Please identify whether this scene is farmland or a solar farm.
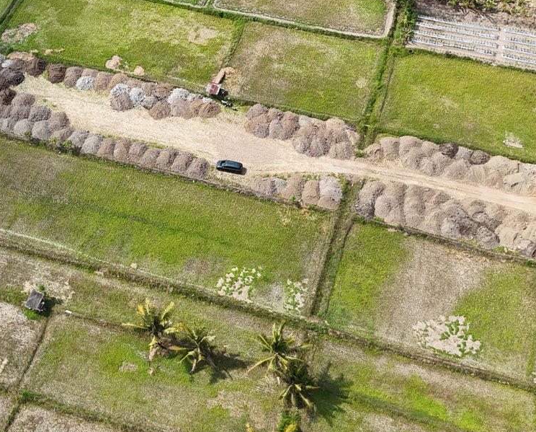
farmland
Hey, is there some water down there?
No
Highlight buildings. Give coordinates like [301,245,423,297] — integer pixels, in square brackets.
[207,79,224,99]
[21,288,46,312]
